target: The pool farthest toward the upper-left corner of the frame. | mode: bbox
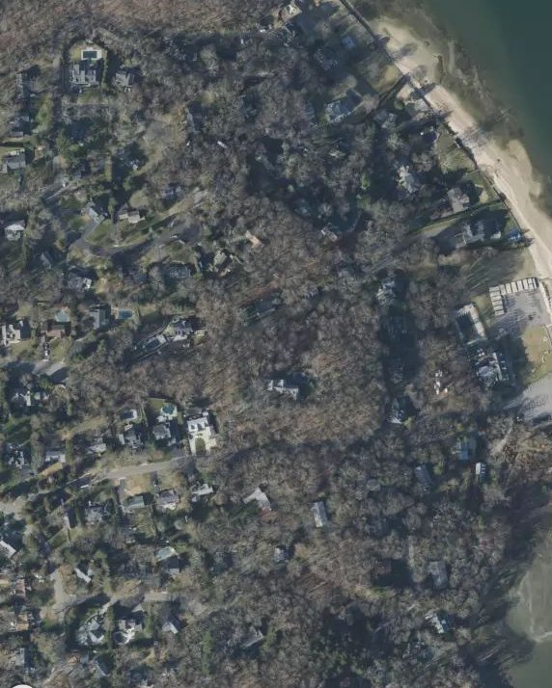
[80,49,98,61]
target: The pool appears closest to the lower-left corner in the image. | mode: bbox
[118,407,135,421]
